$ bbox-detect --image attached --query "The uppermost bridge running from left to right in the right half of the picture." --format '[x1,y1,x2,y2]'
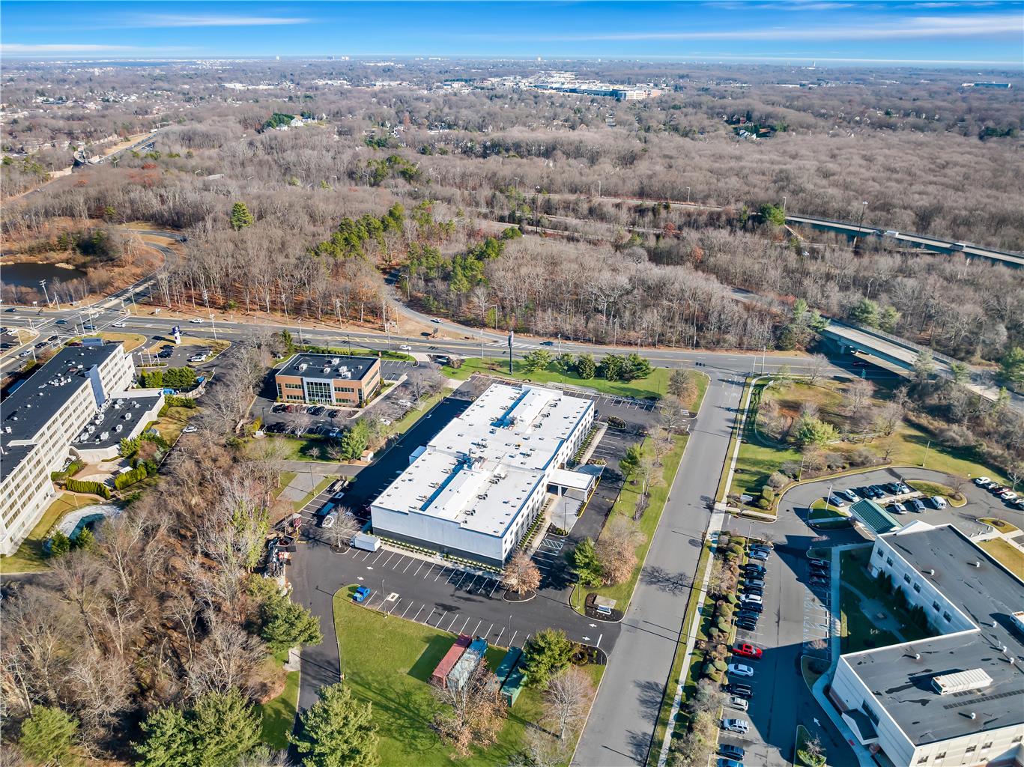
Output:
[781,215,1024,271]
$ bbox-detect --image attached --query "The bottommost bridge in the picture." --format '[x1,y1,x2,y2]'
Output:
[815,316,973,380]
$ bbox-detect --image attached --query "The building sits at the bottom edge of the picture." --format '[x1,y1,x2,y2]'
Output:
[831,512,1024,767]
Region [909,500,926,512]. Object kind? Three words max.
vehicle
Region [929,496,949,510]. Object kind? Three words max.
vehicle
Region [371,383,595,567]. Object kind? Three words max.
building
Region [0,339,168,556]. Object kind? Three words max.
building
